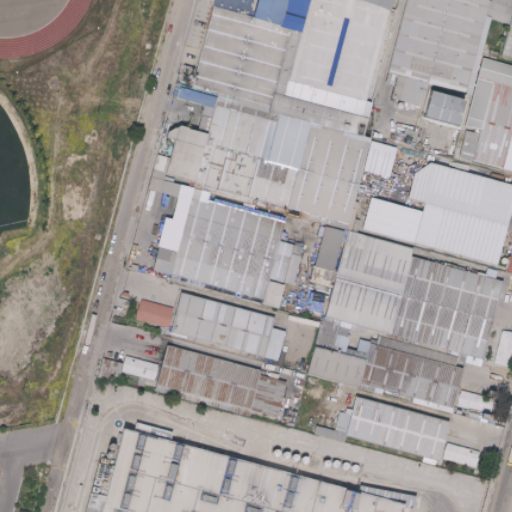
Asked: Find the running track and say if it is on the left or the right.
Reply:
left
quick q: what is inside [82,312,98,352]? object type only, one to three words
vehicle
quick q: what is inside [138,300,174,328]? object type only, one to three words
house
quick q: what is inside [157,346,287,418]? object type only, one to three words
building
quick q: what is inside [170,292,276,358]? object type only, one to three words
building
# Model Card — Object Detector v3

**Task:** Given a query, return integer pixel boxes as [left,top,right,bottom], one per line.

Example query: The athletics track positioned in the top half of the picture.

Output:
[0,0,90,58]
